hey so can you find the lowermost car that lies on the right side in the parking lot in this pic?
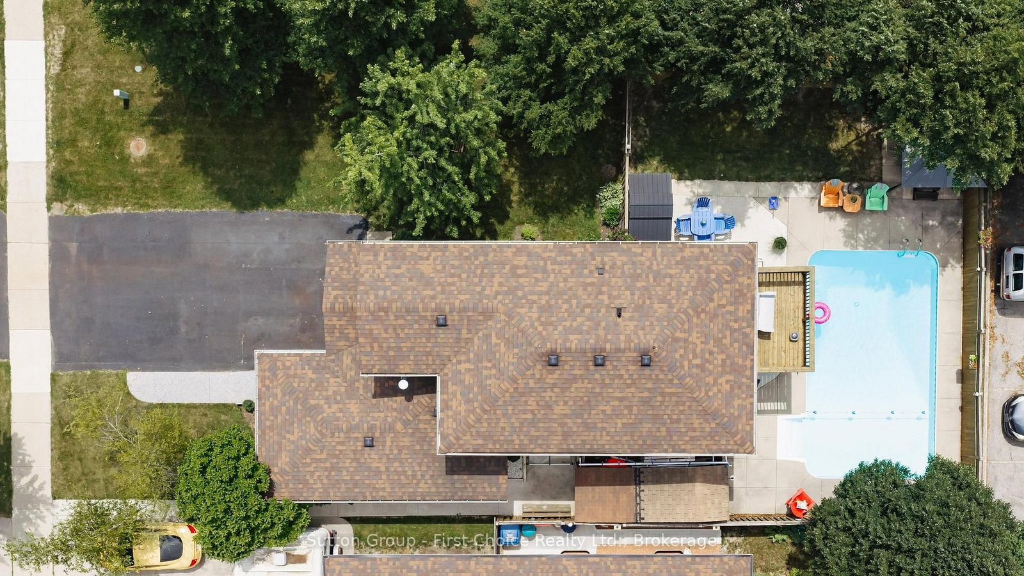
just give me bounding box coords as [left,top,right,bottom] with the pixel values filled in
[999,394,1024,443]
